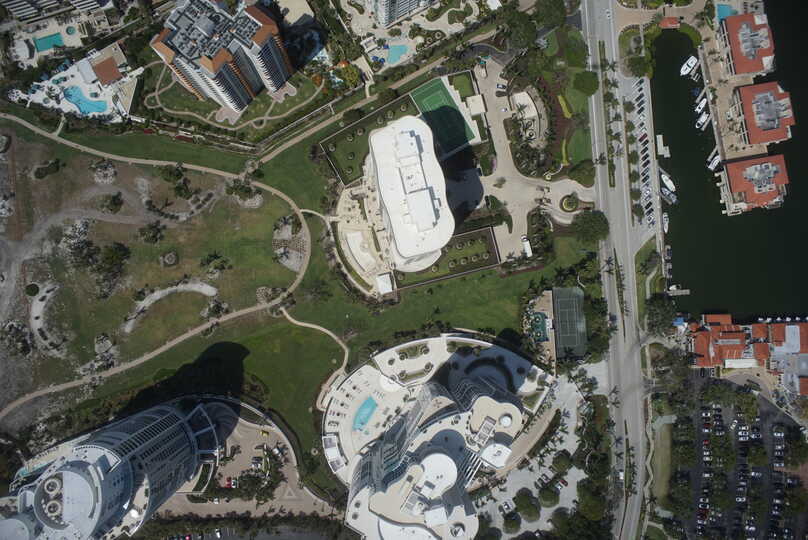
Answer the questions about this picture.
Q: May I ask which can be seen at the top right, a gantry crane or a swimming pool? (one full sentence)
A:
There is a swimming pool at the top right.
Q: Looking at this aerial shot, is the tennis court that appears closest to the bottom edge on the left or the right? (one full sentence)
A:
The tennis court that appears closest to the bottom edge is on the right side of the image.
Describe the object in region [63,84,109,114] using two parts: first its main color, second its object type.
blue swimming pool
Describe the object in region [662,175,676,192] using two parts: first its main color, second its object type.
white boat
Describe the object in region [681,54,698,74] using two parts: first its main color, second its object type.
white boat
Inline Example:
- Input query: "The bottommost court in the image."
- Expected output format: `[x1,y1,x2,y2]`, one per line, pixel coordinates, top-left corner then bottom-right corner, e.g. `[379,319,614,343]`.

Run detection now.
[555,287,587,359]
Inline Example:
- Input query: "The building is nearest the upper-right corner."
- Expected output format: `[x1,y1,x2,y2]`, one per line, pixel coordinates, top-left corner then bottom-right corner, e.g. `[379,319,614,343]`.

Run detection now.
[716,13,775,78]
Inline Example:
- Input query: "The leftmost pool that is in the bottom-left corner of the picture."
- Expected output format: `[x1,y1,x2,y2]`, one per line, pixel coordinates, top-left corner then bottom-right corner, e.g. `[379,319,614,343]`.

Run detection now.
[14,456,56,483]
